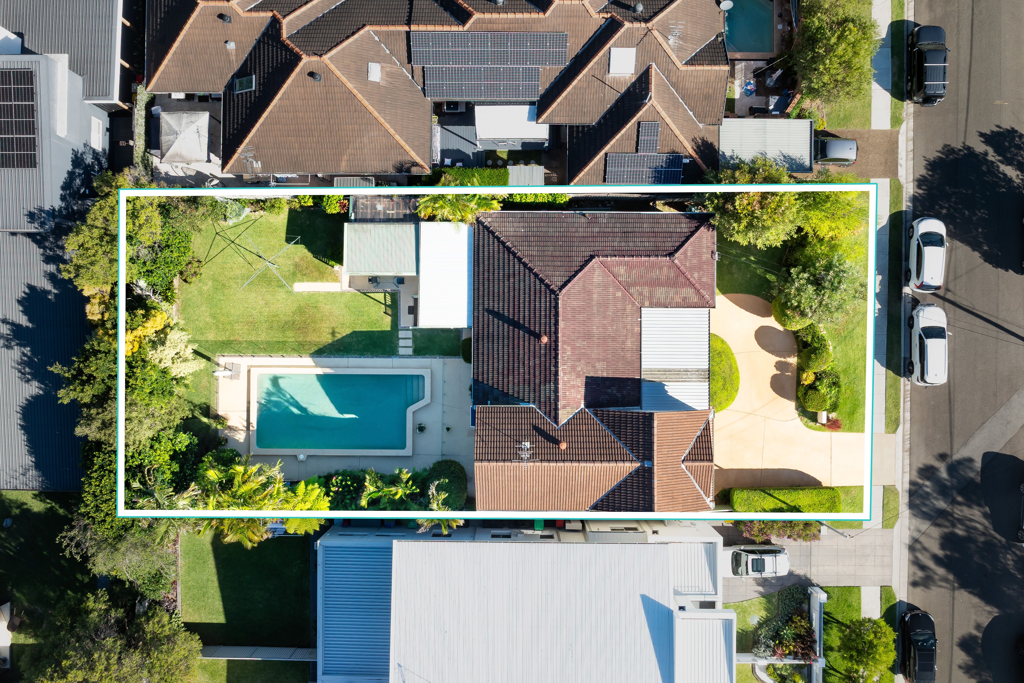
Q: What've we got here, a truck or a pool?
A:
pool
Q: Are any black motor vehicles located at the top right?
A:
Yes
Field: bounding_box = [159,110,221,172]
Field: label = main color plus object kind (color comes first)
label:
white gazebo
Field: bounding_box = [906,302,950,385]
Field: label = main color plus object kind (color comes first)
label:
white car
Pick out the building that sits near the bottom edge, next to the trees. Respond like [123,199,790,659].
[316,513,737,683]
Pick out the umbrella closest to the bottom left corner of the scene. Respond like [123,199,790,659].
[212,363,237,379]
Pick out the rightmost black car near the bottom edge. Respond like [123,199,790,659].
[898,606,942,683]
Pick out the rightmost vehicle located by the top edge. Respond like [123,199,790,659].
[906,22,953,106]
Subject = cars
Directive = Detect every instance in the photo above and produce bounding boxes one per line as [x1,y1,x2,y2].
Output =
[724,538,792,577]
[813,132,866,170]
[905,217,949,292]
[898,606,942,683]
[906,22,953,106]
[906,302,950,385]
